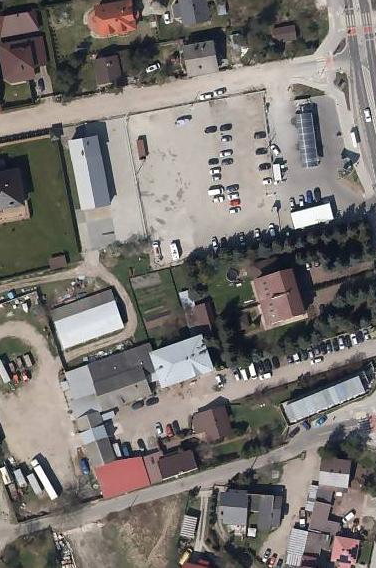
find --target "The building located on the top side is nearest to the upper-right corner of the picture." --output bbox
[273,24,297,43]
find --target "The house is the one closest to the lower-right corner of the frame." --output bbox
[329,536,361,568]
